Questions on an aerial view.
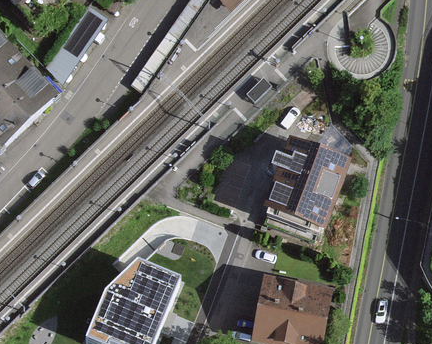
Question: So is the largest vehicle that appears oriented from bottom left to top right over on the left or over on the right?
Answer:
right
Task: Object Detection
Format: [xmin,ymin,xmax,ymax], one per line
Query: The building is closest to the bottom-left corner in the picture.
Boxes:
[86,258,182,344]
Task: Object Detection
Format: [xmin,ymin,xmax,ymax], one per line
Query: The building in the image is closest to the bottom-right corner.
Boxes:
[252,273,335,344]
